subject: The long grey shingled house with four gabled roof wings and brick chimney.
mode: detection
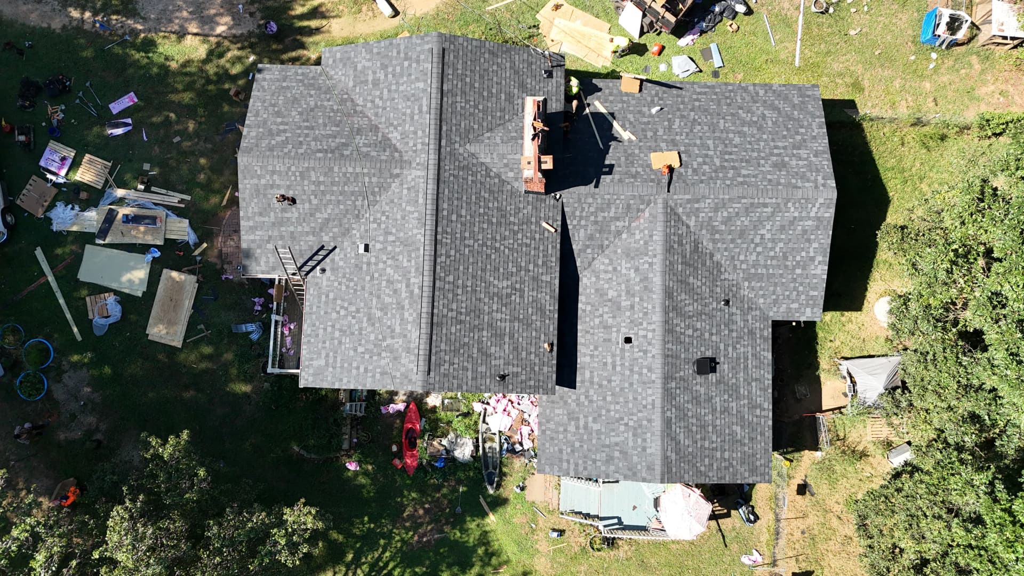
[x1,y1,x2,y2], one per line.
[238,31,837,485]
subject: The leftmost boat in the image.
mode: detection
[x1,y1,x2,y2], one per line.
[401,404,421,475]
